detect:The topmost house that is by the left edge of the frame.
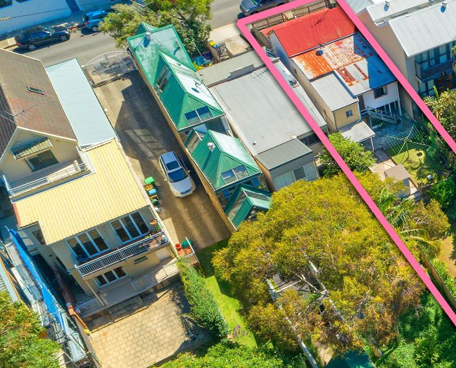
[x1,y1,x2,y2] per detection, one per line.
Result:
[0,51,176,290]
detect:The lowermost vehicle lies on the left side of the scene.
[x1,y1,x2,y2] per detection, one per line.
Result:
[153,148,195,196]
